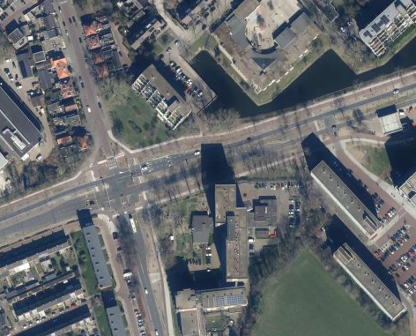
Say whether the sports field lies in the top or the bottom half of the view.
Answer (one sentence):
It is in the bottom half that the sports field appears.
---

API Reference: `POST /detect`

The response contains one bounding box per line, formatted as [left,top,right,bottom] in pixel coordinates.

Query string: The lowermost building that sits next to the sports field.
[176,288,248,336]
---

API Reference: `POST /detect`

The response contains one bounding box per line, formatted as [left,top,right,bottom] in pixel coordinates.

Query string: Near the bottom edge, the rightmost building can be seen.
[332,243,407,324]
